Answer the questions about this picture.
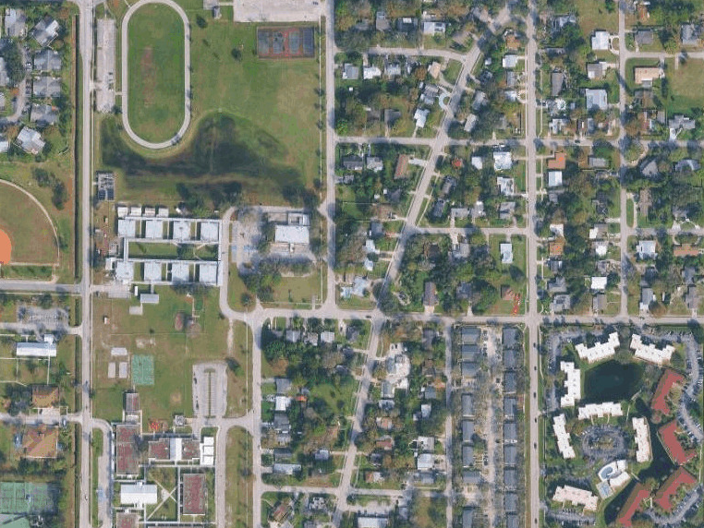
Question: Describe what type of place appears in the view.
residential area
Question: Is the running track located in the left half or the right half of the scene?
left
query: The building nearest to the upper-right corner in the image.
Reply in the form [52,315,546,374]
[680,23,703,45]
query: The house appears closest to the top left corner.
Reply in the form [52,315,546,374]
[3,7,27,37]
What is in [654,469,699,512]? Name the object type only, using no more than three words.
building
